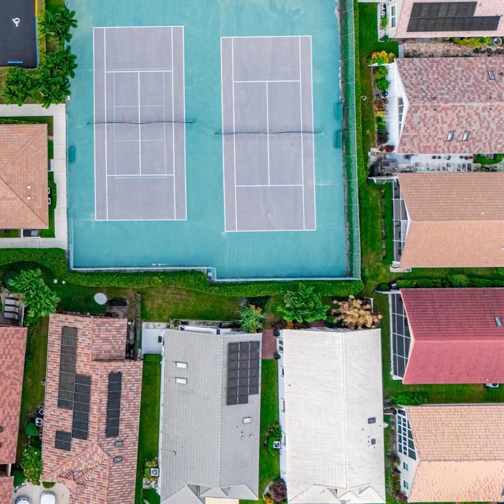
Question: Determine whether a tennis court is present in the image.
Yes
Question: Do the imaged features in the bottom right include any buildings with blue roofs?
No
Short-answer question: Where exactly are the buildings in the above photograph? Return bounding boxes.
[394,288,504,385]
[392,173,504,268]
[159,329,262,504]
[41,314,144,504]
[400,403,504,504]
[389,0,504,38]
[282,328,387,504]
[0,326,27,504]
[394,57,504,153]
[0,124,48,229]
